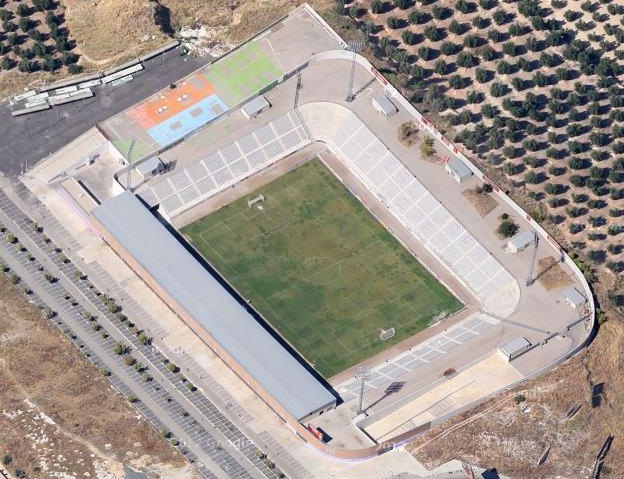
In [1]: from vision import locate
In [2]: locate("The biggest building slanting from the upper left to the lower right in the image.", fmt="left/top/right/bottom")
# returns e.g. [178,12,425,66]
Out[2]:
[62,177,100,213]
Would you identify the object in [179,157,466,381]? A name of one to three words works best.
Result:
soccer field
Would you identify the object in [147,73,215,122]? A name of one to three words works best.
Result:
sports court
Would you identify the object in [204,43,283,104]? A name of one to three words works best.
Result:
sports court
